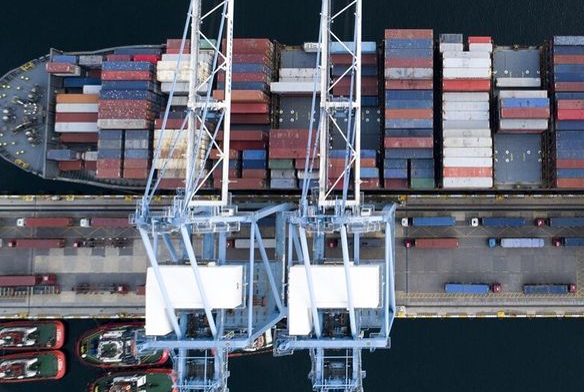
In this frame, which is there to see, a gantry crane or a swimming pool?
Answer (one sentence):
I can see a gantry crane in this picture.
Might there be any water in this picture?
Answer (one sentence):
Yes, water shows up in the scene.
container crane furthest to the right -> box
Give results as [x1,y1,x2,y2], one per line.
[266,0,412,392]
